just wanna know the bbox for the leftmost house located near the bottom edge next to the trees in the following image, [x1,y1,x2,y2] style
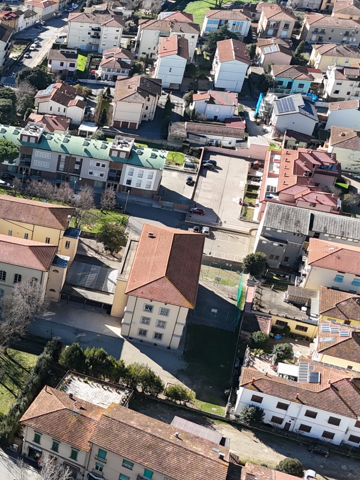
[22,369,120,475]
